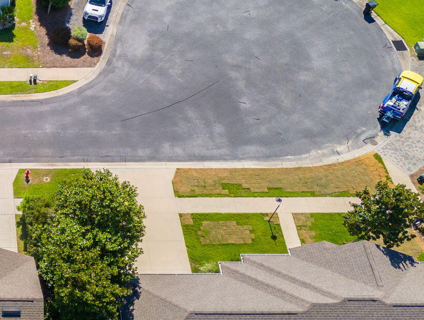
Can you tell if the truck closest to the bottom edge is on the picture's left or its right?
right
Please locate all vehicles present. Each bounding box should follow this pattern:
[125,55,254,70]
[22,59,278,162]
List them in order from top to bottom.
[83,0,114,25]
[374,71,423,124]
